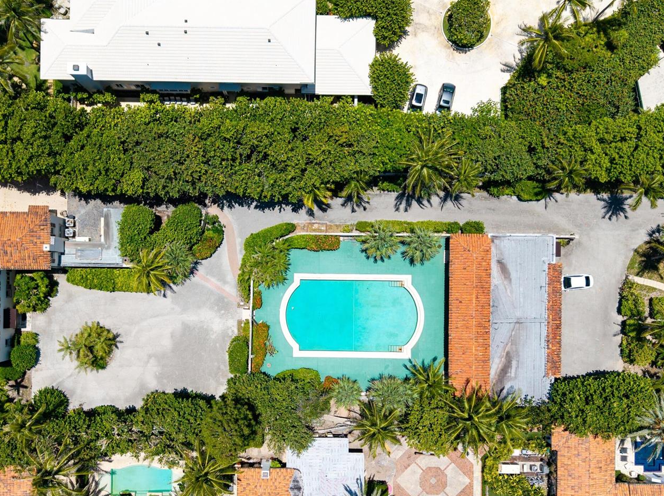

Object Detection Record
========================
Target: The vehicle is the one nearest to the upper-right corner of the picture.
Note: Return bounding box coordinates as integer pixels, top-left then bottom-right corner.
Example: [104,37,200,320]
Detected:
[436,81,454,111]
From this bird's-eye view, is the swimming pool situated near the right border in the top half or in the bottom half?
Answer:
bottom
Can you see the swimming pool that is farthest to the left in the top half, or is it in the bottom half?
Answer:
bottom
